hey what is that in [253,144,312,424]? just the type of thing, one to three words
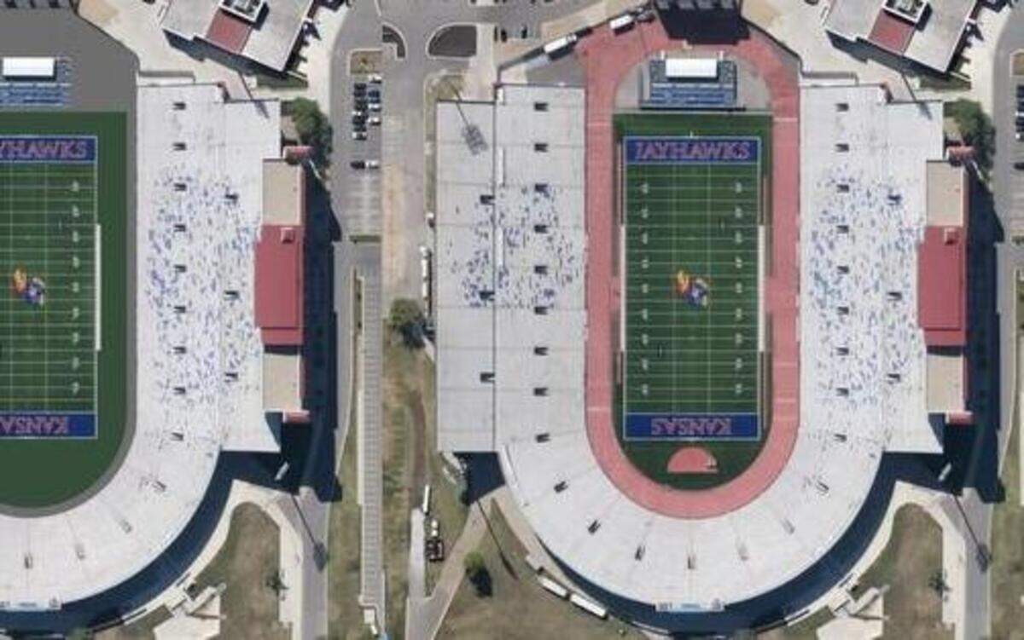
building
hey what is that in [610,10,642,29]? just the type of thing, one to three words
vehicle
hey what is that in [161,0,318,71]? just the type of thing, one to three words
building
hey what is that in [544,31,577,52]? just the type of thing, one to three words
truck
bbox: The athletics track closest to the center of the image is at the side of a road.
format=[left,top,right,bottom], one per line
[575,4,800,518]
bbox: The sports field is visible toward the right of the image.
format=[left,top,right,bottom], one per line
[624,136,760,442]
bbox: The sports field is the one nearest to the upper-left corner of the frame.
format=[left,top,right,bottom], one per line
[0,135,97,440]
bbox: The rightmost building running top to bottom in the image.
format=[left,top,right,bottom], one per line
[921,144,979,424]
